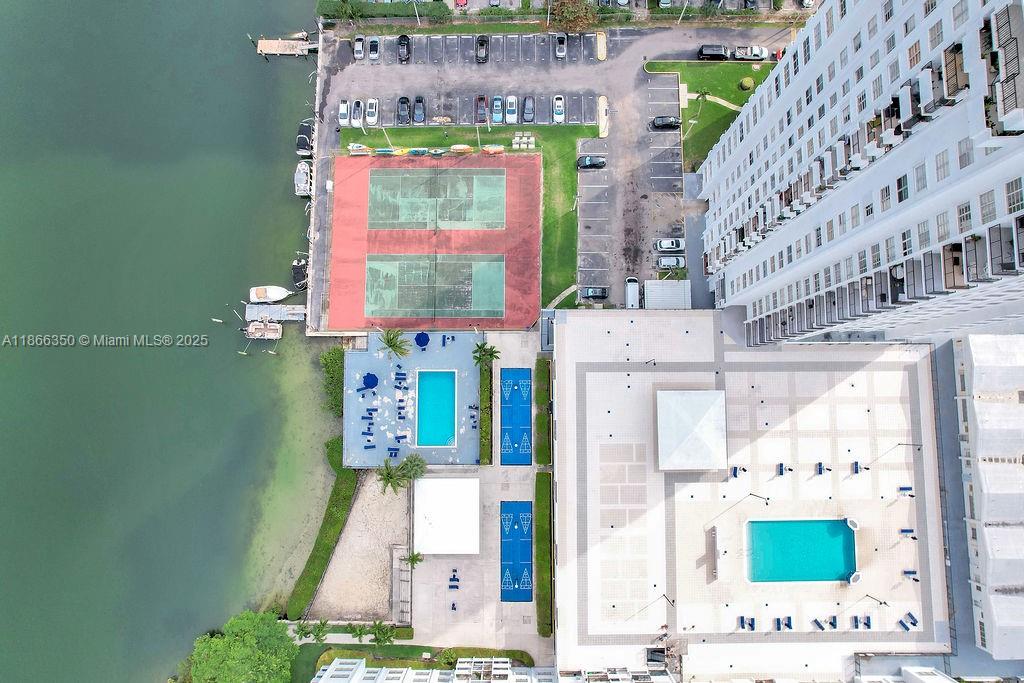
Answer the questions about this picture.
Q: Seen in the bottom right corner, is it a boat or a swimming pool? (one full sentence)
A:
Looking in the bottom right corner, you will find a swimming pool.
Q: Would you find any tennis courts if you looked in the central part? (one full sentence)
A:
Yes, looking in the central part, one can make out a tennis court.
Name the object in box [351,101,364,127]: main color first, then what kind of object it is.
white vehicle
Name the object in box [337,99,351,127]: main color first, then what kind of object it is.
white car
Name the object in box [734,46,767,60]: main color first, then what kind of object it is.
white vehicle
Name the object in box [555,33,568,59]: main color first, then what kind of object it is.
gray vehicle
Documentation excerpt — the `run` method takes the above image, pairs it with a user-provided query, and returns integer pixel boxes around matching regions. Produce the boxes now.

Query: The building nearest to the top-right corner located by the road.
[699,0,1024,350]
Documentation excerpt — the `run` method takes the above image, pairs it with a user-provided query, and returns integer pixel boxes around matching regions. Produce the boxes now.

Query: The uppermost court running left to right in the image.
[332,154,541,243]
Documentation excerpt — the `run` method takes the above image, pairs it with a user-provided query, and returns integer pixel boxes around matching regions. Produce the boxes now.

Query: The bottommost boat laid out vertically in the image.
[292,259,306,288]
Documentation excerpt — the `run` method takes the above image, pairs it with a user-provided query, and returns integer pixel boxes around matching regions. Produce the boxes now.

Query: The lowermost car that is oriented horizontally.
[581,287,608,299]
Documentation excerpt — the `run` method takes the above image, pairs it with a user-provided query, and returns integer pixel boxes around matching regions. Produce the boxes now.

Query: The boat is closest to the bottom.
[242,322,282,339]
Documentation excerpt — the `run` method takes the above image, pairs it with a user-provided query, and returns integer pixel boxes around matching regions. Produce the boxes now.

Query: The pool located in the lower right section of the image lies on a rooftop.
[744,517,861,585]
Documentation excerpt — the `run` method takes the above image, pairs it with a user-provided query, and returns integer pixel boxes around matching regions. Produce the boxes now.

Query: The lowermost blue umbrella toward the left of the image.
[363,373,379,389]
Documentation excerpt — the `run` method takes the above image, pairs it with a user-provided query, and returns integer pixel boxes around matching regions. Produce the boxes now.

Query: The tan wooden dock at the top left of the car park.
[257,38,317,58]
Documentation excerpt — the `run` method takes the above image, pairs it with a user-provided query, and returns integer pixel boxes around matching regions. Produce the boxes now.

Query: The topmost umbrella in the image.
[414,332,430,347]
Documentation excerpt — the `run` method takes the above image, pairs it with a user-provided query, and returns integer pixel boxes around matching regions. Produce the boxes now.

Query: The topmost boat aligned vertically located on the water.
[296,123,311,156]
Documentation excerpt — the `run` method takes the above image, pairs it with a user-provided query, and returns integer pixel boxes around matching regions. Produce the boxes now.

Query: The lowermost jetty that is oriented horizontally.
[245,303,307,322]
